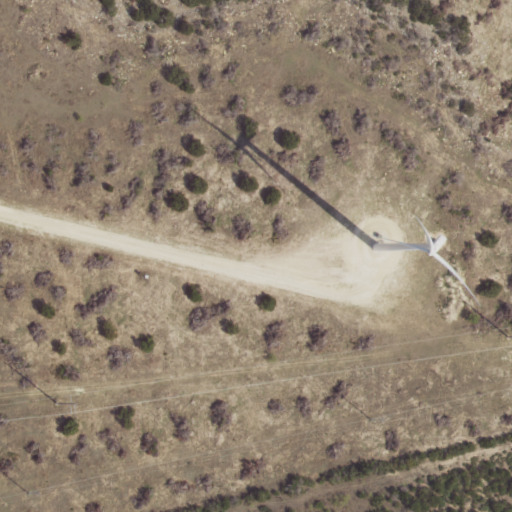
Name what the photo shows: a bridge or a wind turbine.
wind turbine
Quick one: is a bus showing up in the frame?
No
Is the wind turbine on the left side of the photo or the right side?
right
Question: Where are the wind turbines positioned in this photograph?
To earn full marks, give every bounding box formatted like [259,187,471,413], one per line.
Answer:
[374,216,478,304]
